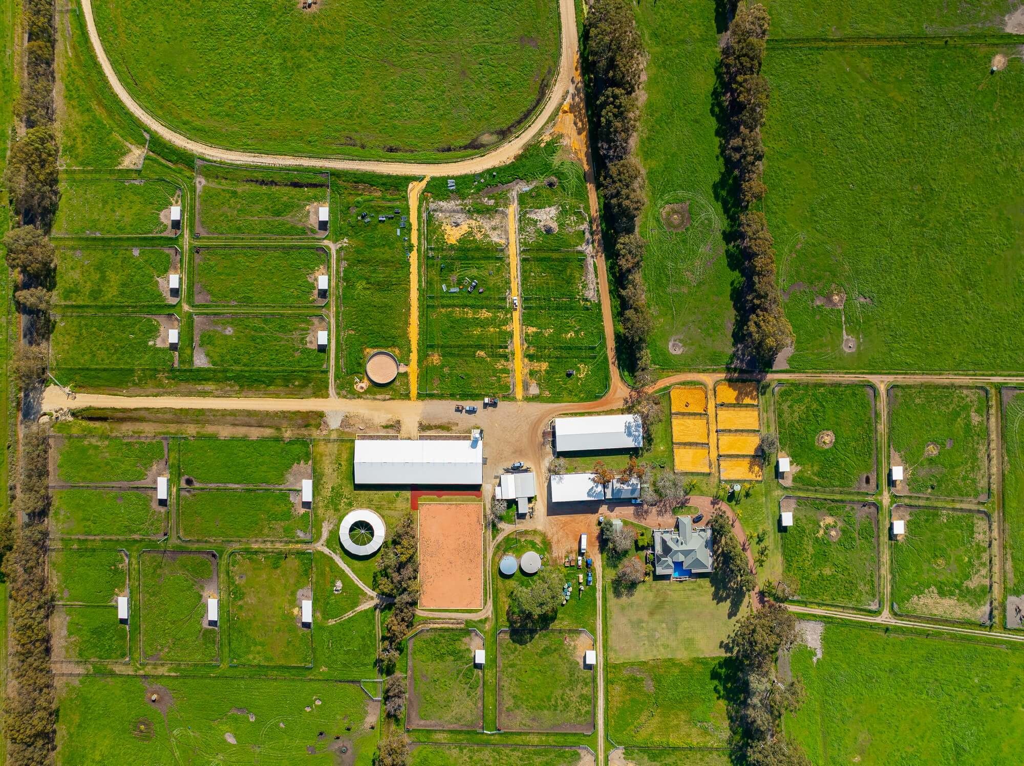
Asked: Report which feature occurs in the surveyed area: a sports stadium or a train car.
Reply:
sports stadium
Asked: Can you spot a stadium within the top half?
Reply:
No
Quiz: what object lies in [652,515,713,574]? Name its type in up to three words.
house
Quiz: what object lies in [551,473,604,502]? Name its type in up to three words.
barn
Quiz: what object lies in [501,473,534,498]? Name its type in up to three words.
shed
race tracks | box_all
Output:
[81,0,577,177]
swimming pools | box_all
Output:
[673,562,691,577]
